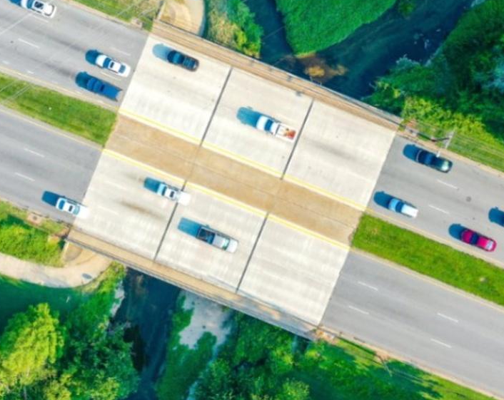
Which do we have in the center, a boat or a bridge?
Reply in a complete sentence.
Looking in the center, you will find a bridge.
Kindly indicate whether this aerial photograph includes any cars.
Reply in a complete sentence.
Yes, a car is visible in the scene.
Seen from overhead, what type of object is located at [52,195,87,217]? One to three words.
car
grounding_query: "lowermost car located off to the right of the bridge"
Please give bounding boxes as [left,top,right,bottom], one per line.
[458,227,496,252]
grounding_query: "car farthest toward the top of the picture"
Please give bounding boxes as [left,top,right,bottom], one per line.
[20,0,57,18]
